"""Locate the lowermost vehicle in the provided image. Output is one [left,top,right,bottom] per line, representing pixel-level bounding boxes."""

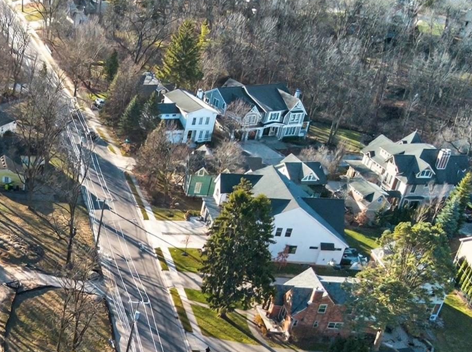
[85,127,101,142]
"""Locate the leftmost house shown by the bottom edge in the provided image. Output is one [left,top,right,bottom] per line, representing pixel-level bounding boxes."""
[259,267,380,344]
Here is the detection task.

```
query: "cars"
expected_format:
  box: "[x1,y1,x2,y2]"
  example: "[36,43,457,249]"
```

[86,94,111,106]
[85,127,101,142]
